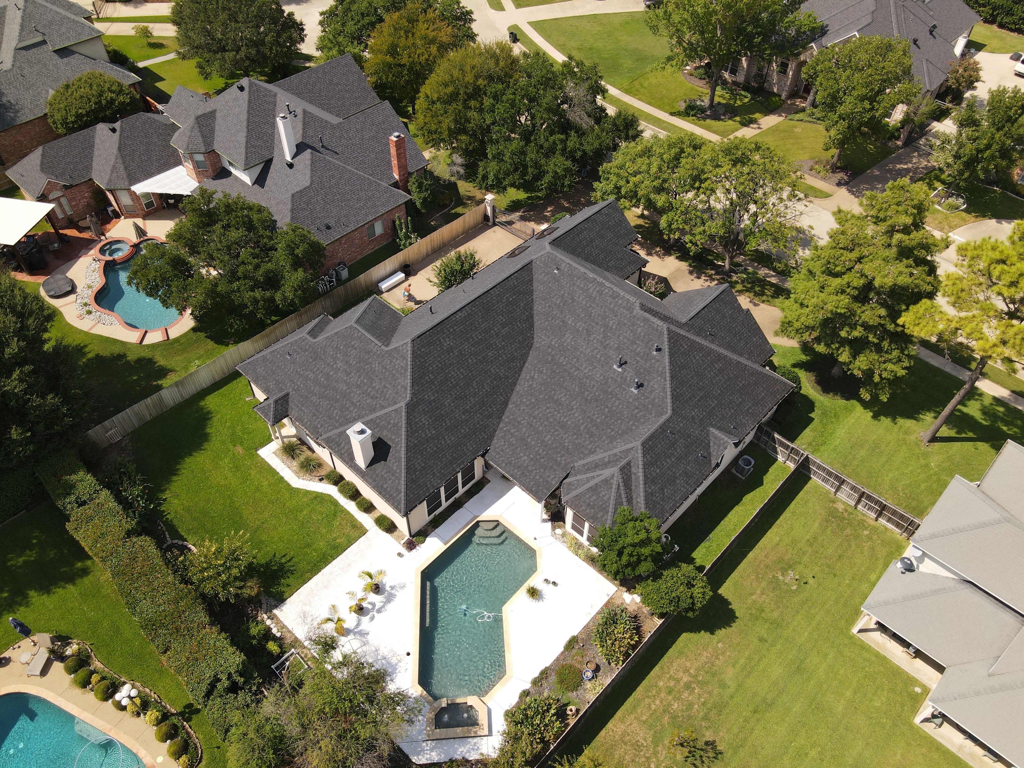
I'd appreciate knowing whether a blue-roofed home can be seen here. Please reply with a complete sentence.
No, there is no blue-roofed home in the image.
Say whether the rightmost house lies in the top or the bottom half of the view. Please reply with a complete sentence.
The rightmost house is in the bottom half of the image.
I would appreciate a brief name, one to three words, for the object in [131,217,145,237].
umbrella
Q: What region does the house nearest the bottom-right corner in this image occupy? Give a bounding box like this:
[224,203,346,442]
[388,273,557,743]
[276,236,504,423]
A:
[855,439,1024,768]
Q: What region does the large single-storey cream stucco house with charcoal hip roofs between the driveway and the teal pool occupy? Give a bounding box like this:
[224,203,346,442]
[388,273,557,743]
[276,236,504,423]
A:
[236,198,795,552]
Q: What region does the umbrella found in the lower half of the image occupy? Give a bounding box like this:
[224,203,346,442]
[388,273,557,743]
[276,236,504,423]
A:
[9,621,29,647]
